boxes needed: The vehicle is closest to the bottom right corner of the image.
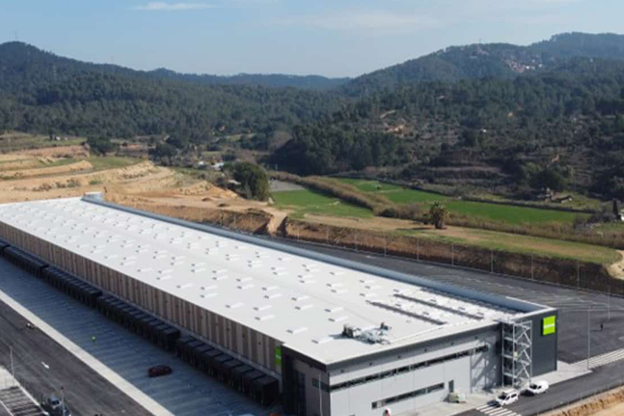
[525,378,551,395]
